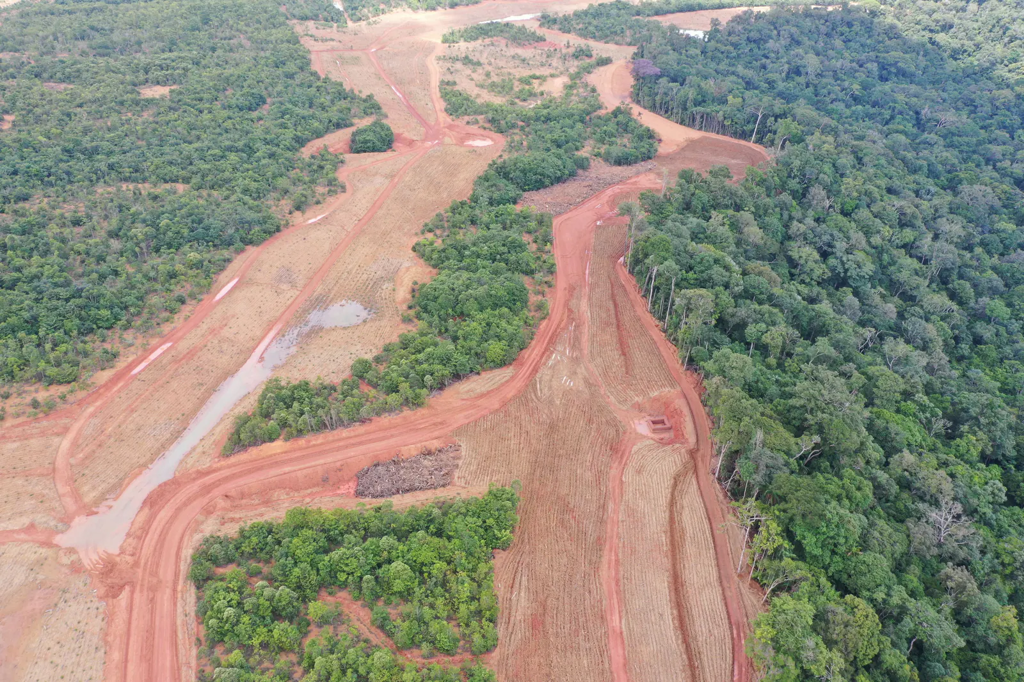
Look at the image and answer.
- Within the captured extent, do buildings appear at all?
No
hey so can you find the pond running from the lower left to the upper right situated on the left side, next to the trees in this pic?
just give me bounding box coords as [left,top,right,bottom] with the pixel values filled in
[58,322,285,569]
